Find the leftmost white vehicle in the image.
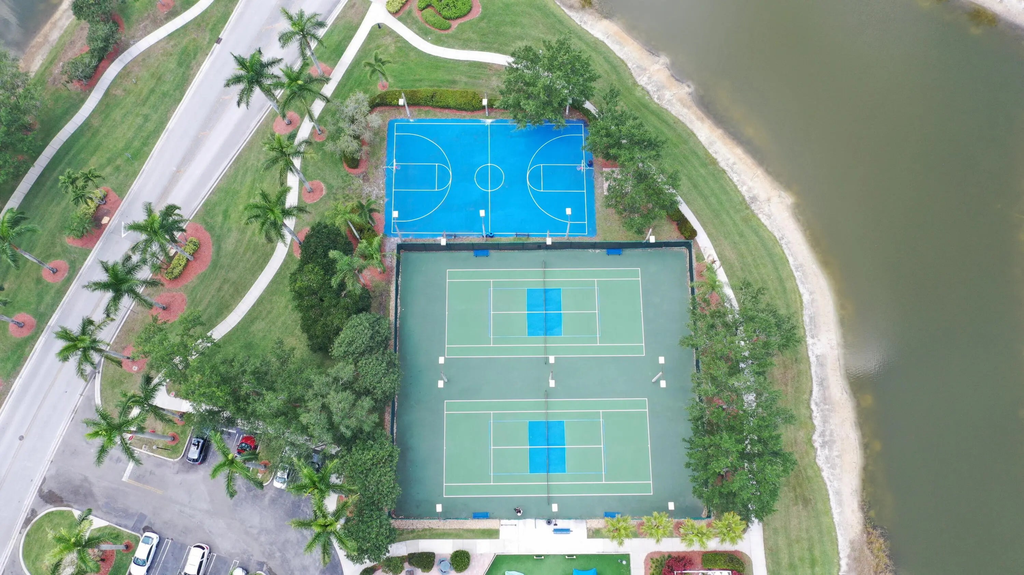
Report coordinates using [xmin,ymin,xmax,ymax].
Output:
[129,531,159,575]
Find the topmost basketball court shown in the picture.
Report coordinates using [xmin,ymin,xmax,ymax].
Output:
[383,116,596,238]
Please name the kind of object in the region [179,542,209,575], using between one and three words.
car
